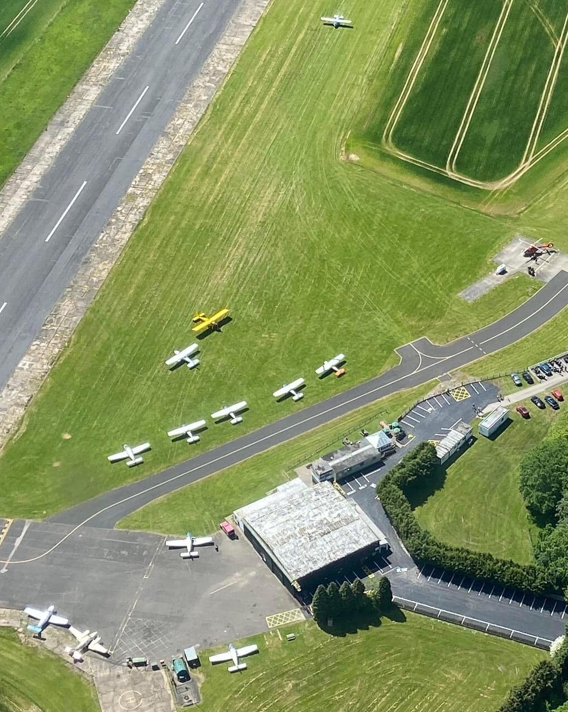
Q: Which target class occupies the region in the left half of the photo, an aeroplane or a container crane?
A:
aeroplane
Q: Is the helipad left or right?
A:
right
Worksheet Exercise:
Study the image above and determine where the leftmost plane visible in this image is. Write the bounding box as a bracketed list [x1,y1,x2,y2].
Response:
[21,603,74,632]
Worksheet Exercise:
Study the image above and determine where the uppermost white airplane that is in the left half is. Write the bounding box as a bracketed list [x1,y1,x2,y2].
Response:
[165,344,200,367]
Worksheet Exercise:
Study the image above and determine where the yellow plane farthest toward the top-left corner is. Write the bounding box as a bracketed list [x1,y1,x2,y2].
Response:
[192,311,227,333]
